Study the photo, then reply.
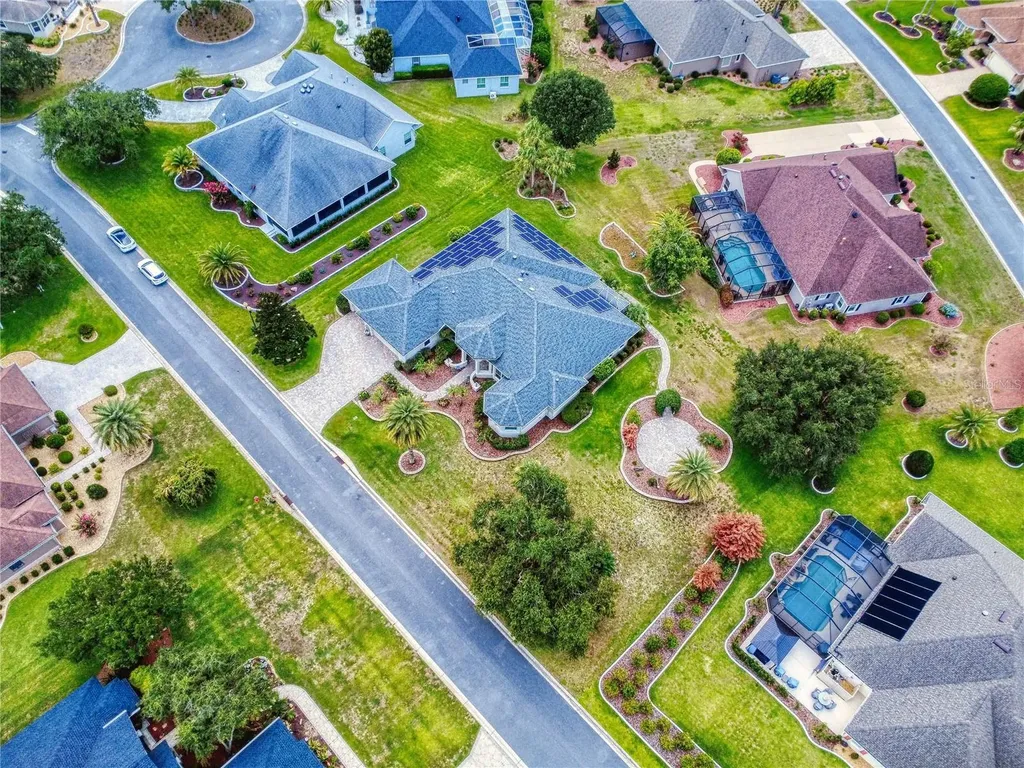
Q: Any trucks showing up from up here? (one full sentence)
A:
No, the frame has no truck in it.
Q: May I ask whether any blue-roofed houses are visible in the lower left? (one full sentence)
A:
Yes, a blue-roofed house shows up in the lower left.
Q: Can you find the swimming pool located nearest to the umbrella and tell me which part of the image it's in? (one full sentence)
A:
The swimming pool located nearest to the umbrella appears toward the bottom right of the photo.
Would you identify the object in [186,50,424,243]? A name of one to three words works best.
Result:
house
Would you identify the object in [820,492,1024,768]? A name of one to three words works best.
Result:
house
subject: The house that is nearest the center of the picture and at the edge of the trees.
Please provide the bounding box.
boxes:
[339,208,641,436]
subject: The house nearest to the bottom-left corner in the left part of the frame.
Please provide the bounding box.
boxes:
[0,676,189,768]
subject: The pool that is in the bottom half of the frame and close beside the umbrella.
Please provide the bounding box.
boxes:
[780,552,848,633]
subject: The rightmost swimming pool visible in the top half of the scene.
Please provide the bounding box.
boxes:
[715,234,769,293]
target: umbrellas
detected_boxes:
[751,614,800,668]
